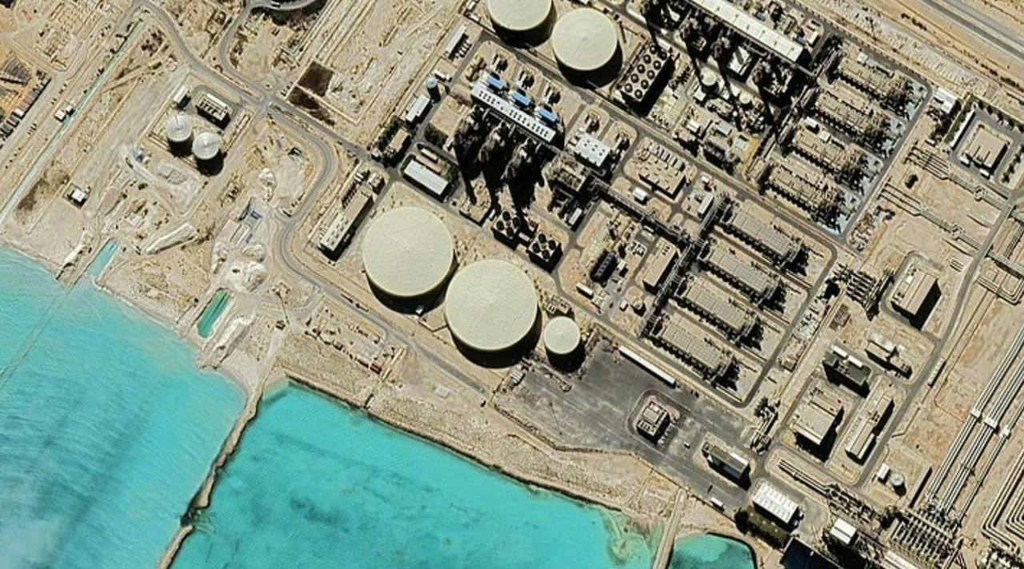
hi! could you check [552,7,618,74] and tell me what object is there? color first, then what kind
white storage tank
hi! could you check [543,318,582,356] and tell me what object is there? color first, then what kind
white storage tank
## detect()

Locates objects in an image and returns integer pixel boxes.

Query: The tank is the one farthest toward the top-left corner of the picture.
[166,115,195,144]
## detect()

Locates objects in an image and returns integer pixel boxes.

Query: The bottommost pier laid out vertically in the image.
[654,488,686,569]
